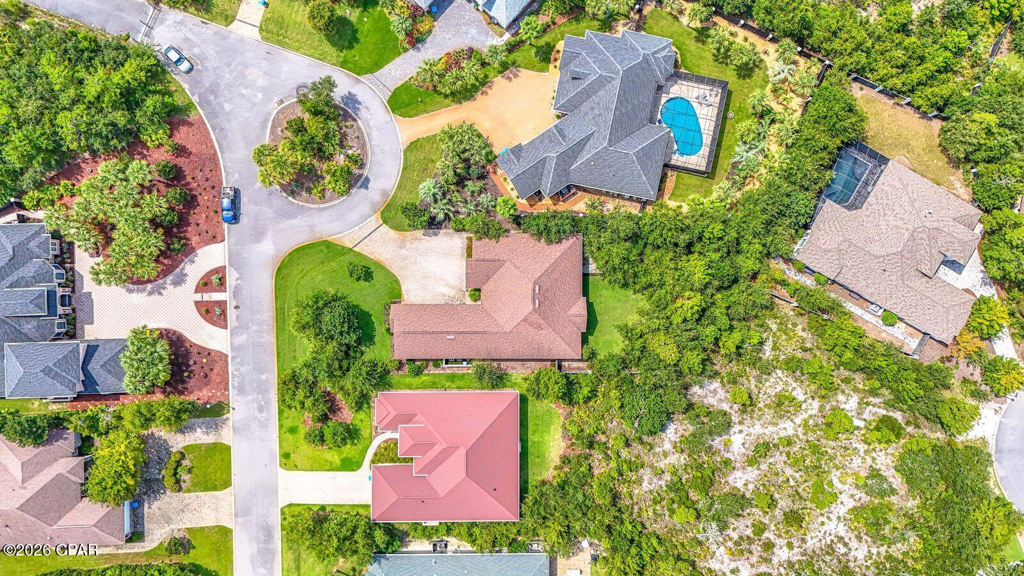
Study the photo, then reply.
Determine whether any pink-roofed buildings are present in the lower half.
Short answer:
Yes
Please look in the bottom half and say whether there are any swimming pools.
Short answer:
No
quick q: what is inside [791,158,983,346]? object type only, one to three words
house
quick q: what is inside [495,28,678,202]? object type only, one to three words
house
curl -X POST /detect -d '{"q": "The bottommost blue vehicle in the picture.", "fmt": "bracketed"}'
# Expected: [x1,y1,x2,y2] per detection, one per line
[220,186,237,224]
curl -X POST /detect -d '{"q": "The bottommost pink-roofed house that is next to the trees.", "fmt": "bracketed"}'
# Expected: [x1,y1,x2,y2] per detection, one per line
[371,391,519,522]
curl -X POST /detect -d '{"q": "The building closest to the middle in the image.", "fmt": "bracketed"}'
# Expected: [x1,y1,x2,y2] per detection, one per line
[389,232,588,360]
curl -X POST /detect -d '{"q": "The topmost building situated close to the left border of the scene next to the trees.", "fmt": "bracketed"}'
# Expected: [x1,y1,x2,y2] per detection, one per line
[0,223,138,400]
